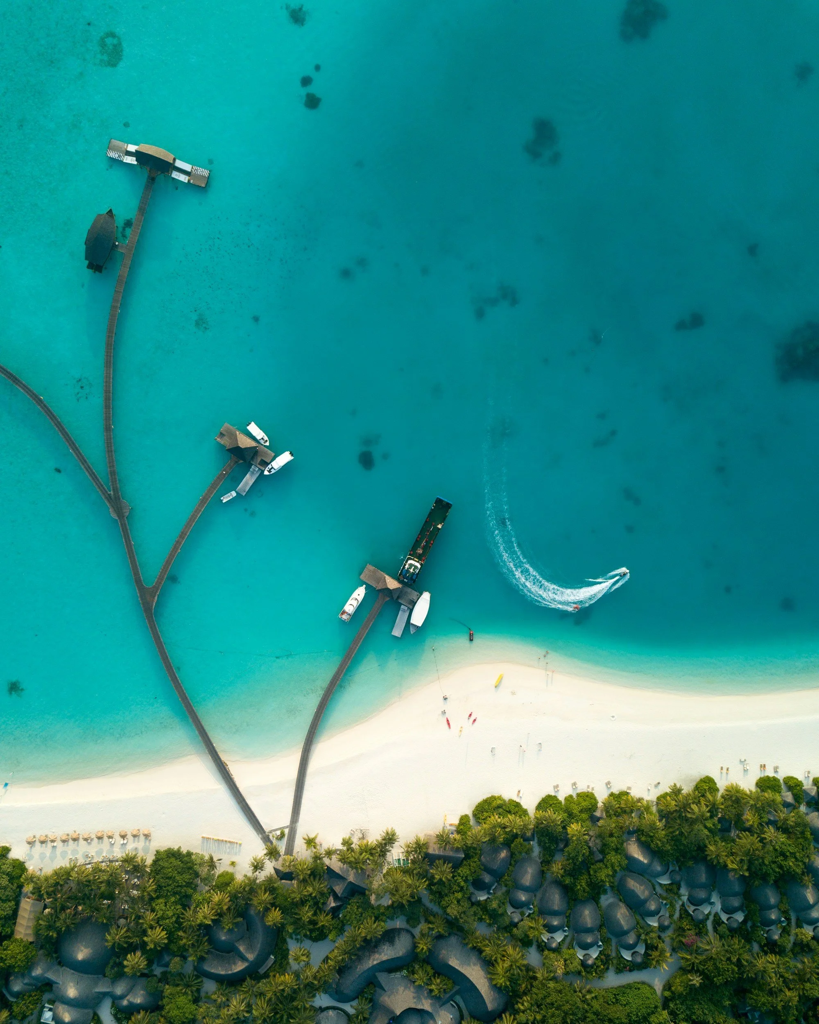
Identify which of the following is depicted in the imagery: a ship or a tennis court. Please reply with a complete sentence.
Visible in the photo is a ship.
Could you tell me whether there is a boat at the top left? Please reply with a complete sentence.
Yes, a boat appears at the top left.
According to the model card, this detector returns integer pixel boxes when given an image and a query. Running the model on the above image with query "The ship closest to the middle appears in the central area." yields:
[398,496,453,585]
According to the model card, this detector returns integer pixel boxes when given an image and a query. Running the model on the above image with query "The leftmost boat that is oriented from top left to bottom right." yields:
[245,420,269,445]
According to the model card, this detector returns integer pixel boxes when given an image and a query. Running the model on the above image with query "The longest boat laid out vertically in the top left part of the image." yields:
[84,207,116,273]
